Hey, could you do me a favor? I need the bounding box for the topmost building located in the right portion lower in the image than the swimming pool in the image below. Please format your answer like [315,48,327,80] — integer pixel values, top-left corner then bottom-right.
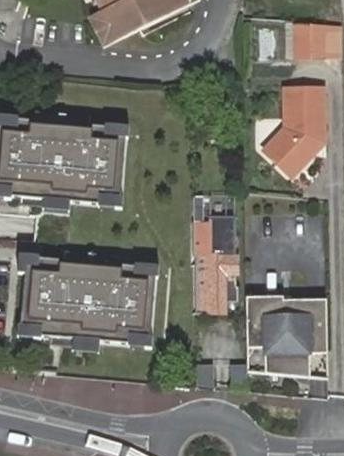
[262,83,326,180]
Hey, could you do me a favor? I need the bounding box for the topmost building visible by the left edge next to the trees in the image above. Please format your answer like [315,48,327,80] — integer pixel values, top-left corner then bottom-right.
[0,112,132,215]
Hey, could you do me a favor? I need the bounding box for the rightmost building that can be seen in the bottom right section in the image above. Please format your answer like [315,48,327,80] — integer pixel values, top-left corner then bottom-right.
[248,296,328,398]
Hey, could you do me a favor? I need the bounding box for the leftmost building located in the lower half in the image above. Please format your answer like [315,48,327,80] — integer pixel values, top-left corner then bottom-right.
[18,251,161,352]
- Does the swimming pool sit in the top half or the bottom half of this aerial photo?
top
